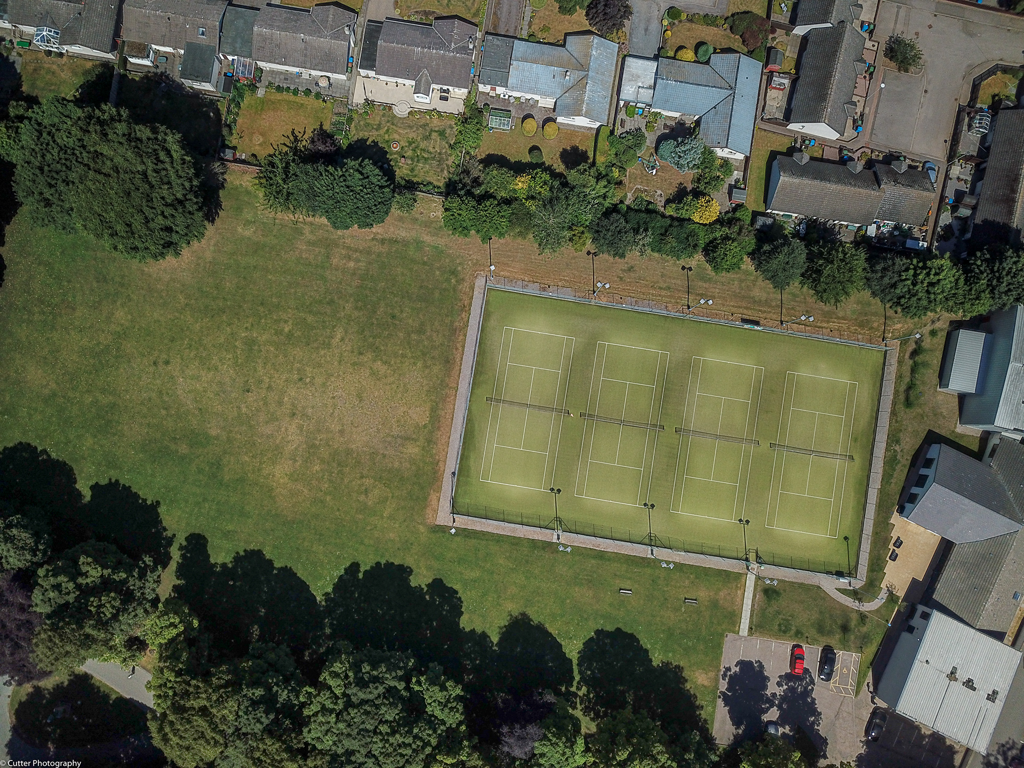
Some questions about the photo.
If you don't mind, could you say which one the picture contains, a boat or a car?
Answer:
car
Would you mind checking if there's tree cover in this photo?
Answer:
Yes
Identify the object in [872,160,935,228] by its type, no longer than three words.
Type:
house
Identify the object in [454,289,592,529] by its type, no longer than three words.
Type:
tennis court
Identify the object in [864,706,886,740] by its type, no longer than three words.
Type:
car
